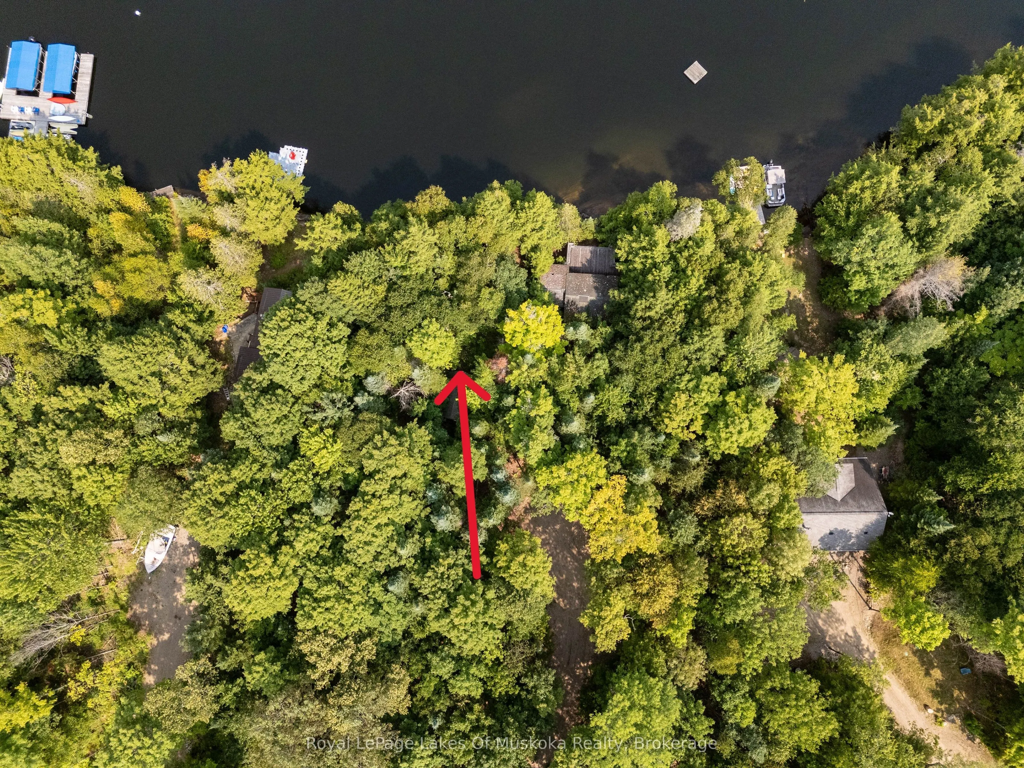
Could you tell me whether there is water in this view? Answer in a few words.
Yes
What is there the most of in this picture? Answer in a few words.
trees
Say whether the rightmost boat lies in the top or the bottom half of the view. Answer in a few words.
top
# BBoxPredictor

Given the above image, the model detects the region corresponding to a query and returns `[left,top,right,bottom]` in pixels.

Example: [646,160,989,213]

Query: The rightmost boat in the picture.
[766,157,788,205]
